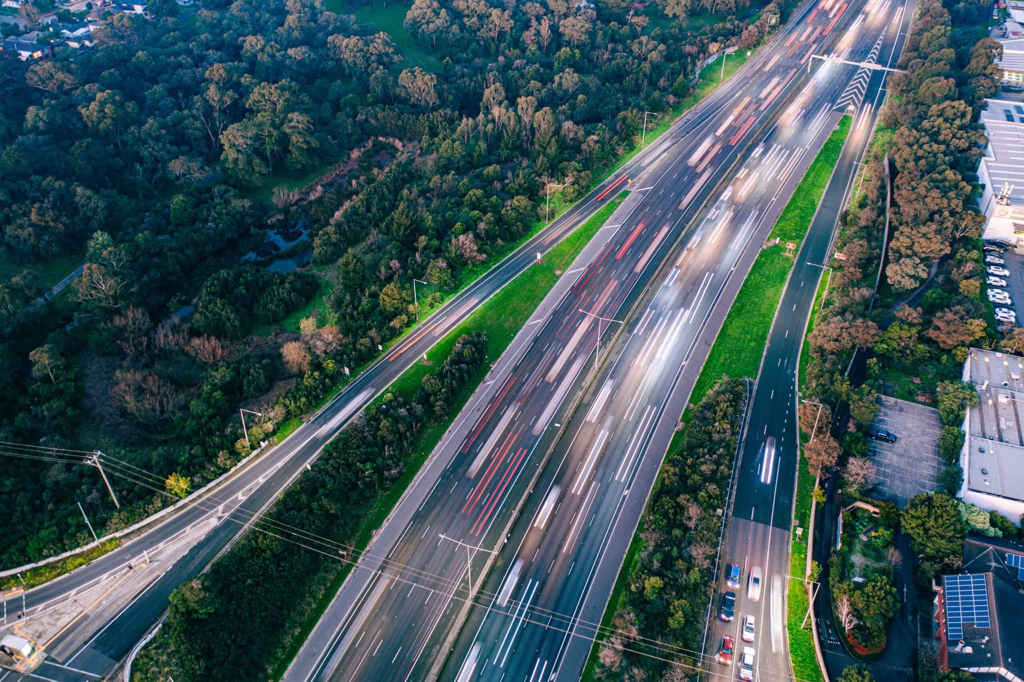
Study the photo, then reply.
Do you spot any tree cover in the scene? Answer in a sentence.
Yes, tree cover shows up in the scene.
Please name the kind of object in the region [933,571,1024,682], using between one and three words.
building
